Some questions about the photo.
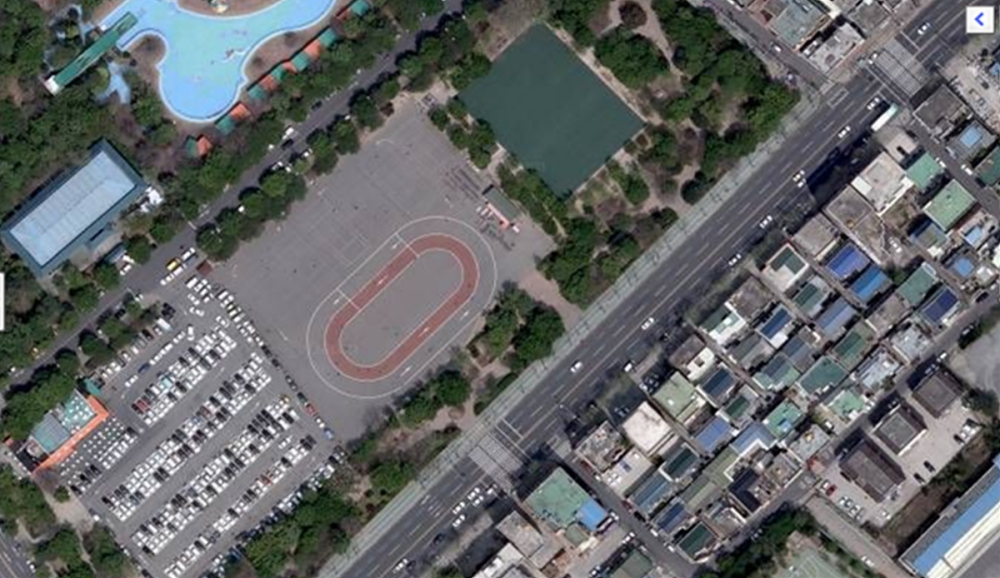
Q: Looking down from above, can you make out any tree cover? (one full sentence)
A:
Yes, tree cover can be seen from above here.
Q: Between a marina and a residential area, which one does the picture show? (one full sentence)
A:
This looks like a residential area.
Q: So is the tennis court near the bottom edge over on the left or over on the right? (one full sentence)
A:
You can find the tennis court near the bottom edge on the right side of the picture.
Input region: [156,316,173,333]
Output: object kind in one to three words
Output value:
vehicle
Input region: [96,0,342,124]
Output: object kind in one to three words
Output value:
swimming pool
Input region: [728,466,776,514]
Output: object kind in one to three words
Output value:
house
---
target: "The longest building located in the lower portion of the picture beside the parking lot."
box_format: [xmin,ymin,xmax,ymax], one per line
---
[18,379,108,473]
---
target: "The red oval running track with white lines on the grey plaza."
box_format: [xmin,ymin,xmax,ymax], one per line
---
[307,216,497,399]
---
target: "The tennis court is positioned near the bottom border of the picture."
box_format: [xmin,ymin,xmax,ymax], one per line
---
[780,547,841,578]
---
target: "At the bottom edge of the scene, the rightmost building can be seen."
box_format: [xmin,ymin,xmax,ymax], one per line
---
[897,462,1000,578]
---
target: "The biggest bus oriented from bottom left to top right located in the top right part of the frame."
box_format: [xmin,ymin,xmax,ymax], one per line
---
[870,104,897,131]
